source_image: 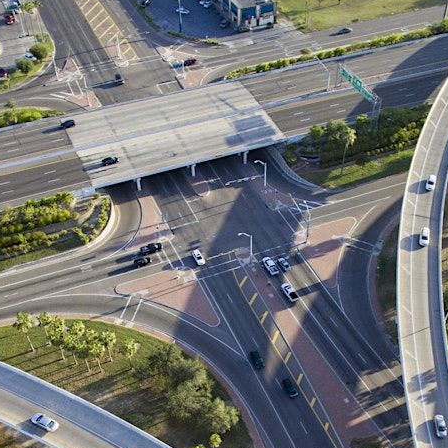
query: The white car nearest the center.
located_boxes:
[193,249,206,264]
